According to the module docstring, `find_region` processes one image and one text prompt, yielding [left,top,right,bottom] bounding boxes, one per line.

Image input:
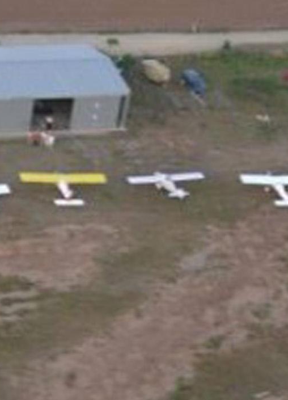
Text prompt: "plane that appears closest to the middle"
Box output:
[128,172,206,199]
